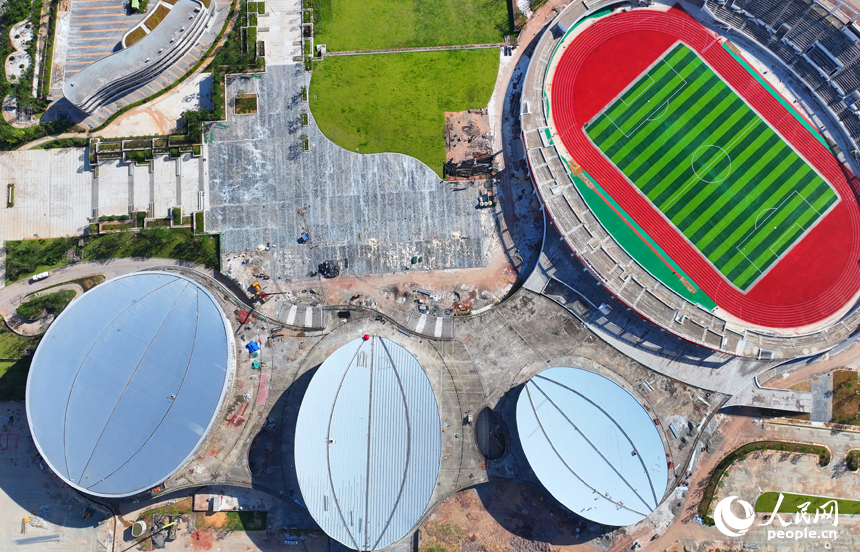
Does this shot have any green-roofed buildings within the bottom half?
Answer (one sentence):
No, there is no green-roofed building within the bottom half.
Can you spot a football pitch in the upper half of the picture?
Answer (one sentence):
Yes, in the upper half of the picture there is a football pitch.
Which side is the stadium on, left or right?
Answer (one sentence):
The stadium is on the right side of the image.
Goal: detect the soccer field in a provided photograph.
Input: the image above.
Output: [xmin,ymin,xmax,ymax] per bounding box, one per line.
[584,39,840,292]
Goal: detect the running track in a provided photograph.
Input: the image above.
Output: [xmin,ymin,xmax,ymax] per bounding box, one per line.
[548,0,860,325]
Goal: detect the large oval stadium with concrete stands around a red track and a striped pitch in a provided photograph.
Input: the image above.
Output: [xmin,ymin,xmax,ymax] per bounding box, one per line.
[518,0,860,363]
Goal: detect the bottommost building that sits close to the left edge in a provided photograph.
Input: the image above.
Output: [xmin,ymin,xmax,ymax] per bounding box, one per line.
[24,271,243,497]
